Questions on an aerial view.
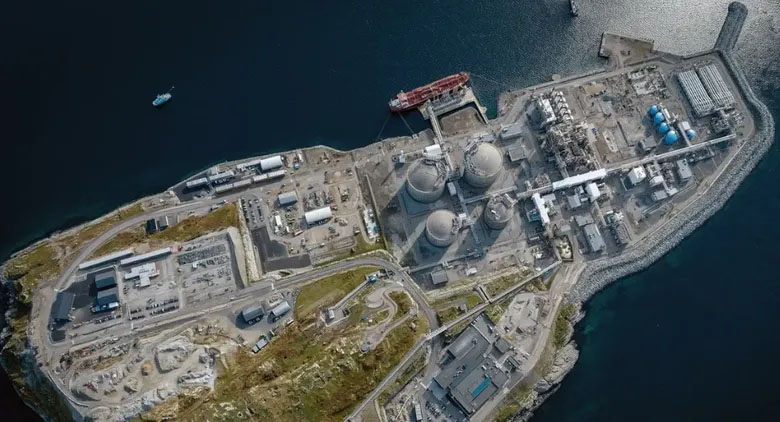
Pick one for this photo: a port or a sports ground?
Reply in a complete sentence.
This image shows a port.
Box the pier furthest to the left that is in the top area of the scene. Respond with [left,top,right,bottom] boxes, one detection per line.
[417,88,487,124]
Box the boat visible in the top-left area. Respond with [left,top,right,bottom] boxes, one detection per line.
[152,87,174,105]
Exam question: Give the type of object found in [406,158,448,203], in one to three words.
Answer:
storage tank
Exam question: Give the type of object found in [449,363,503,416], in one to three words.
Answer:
building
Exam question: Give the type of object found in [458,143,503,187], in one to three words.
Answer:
storage tank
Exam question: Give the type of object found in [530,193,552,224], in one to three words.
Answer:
building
